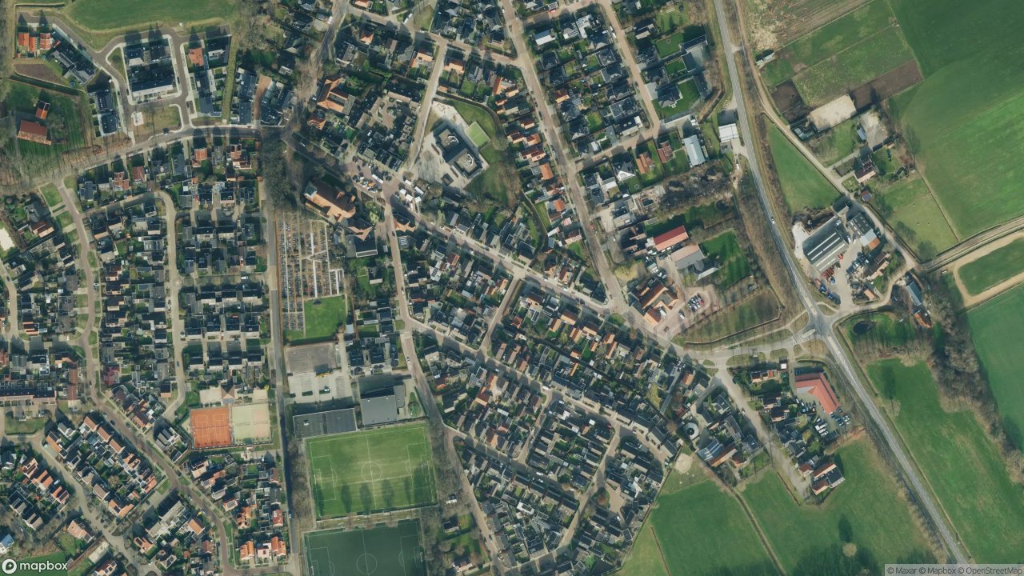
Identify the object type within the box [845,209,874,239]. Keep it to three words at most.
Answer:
building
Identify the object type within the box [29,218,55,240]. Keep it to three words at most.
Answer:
house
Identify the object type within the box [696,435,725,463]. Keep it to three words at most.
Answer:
barn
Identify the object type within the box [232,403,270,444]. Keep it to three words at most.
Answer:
tennis court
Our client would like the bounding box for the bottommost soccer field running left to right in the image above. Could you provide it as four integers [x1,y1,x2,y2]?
[304,519,424,576]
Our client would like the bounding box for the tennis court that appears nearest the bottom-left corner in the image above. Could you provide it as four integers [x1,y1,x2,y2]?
[191,407,231,448]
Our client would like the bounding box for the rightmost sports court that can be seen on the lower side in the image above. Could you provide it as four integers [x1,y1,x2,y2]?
[286,342,336,373]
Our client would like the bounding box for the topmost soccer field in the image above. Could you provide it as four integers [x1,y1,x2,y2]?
[305,423,437,521]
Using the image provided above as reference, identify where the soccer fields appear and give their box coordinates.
[305,423,437,521]
[304,519,424,576]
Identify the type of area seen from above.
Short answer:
residential area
